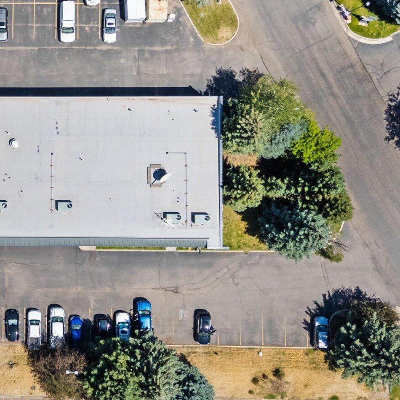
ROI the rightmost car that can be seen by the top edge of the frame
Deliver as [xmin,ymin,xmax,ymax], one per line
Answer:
[101,9,118,44]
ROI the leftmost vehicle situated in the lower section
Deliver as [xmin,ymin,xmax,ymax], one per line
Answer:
[3,308,20,341]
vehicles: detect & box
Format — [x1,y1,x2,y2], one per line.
[26,309,43,350]
[196,310,218,343]
[136,299,154,343]
[3,308,20,341]
[101,9,118,44]
[114,311,132,344]
[48,306,67,349]
[59,1,77,43]
[96,314,111,344]
[0,7,9,43]
[68,314,84,344]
